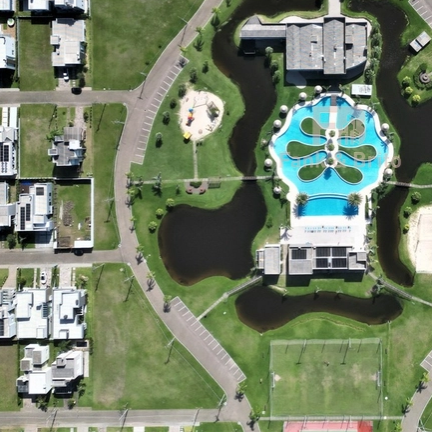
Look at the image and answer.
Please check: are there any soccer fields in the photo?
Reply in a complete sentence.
Yes, a soccer field can be made out from above.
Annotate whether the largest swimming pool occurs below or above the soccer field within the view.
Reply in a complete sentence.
Looking at the scene, the largest swimming pool is located above the soccer field.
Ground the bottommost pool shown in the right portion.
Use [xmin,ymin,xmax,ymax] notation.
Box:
[271,95,390,216]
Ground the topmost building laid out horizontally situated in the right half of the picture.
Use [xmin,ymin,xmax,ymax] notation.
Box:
[241,14,368,75]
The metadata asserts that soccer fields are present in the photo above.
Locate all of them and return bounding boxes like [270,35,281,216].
[272,340,382,416]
